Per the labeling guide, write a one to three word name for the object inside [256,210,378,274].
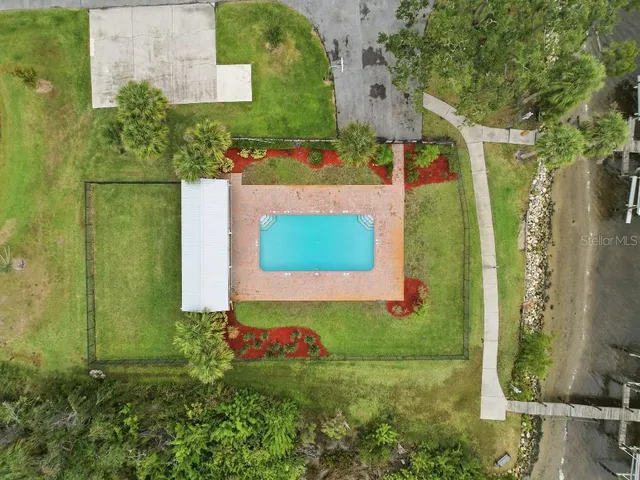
swimming pool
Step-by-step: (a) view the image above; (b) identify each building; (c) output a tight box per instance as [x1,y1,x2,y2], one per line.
[181,179,234,312]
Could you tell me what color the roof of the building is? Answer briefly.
white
